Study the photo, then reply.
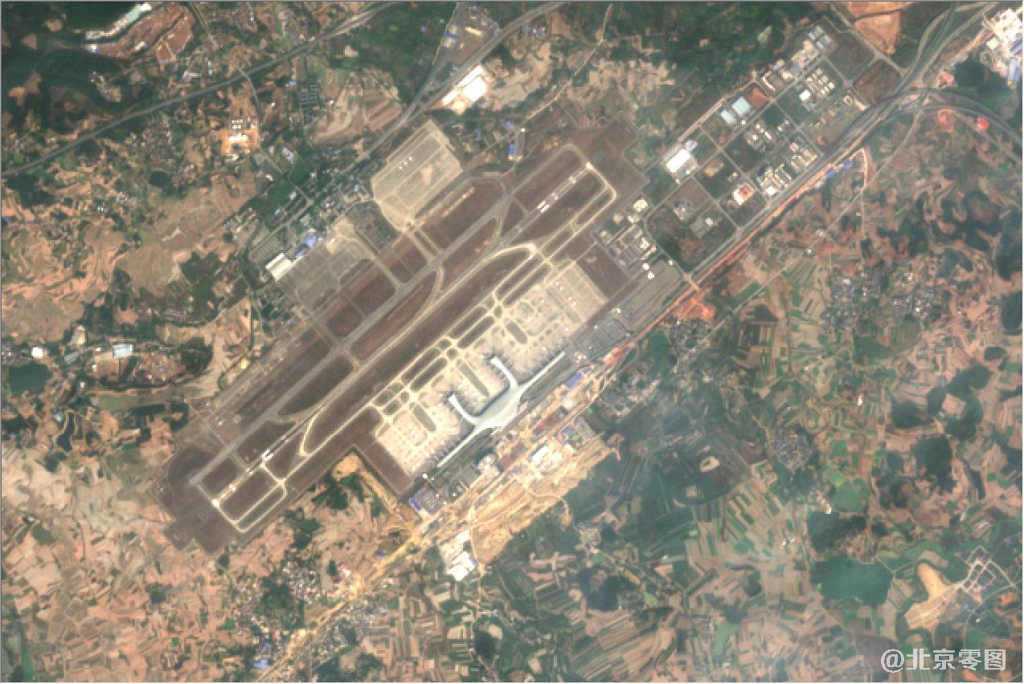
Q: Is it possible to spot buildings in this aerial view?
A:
Yes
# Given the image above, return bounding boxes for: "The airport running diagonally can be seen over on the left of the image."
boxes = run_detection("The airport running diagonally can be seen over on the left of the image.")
[157,106,649,555]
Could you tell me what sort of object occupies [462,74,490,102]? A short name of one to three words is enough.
building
